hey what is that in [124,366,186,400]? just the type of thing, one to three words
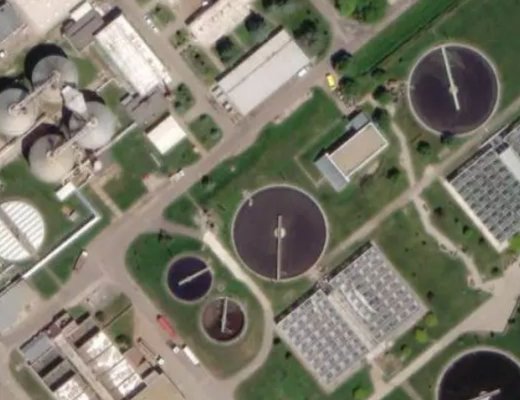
building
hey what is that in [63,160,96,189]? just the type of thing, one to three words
building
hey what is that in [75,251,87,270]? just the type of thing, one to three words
vehicle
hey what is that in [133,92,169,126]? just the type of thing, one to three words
shed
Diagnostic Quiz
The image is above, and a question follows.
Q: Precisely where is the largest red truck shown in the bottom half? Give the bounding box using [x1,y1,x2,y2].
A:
[155,314,177,339]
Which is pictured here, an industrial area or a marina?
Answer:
industrial area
